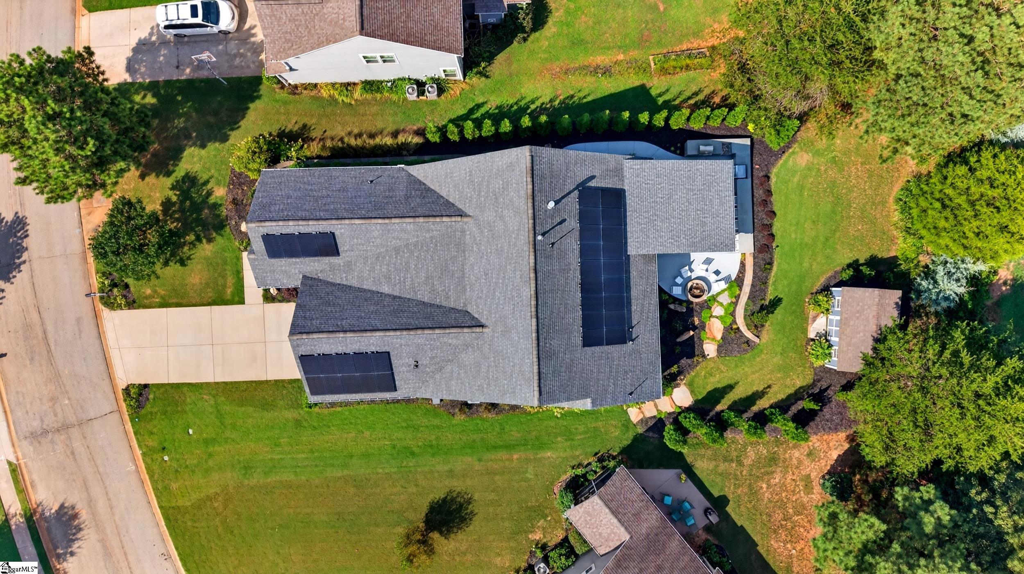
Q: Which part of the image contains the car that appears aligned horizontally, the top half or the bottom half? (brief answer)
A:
top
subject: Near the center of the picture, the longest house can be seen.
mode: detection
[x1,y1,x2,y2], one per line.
[247,146,739,409]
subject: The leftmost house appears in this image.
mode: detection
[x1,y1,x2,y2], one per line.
[247,0,467,90]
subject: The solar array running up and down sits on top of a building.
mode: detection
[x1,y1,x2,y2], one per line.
[577,189,628,347]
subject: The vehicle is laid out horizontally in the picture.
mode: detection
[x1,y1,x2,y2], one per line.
[156,0,236,39]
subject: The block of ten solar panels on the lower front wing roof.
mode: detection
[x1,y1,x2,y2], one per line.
[300,351,395,395]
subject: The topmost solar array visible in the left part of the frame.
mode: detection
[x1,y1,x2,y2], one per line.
[262,231,339,259]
